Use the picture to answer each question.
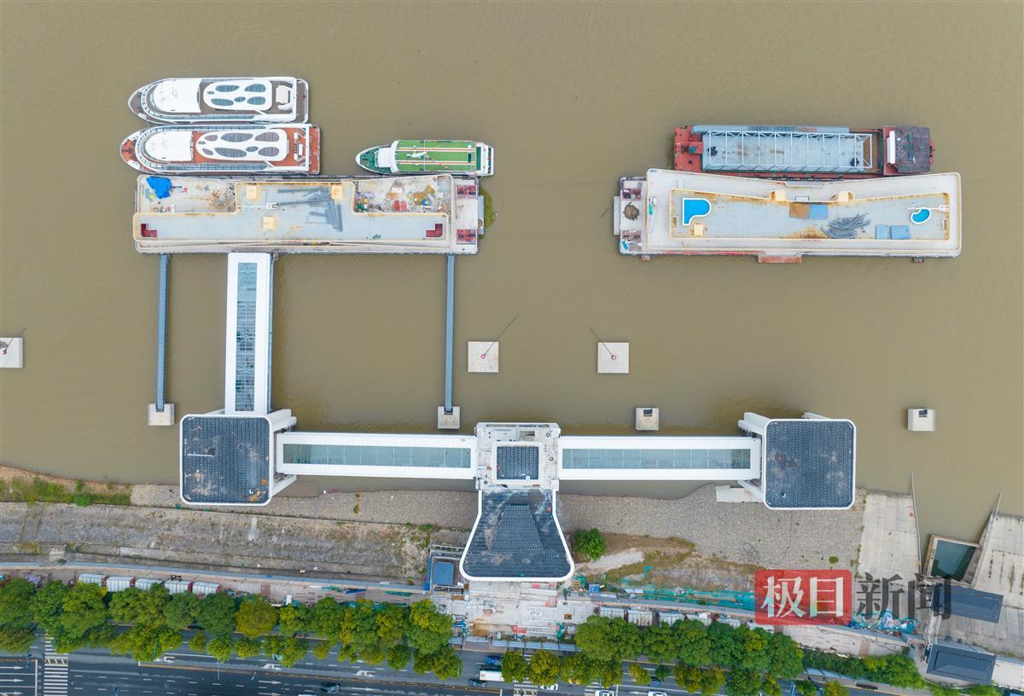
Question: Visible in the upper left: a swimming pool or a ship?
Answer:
ship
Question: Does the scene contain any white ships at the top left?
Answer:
Yes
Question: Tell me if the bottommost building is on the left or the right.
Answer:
right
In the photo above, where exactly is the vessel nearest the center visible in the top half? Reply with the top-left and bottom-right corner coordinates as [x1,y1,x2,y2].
[355,140,494,177]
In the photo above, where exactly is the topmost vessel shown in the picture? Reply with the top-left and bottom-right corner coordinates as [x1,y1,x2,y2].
[126,76,309,124]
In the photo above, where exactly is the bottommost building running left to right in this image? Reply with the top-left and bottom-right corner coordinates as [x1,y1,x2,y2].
[920,639,996,684]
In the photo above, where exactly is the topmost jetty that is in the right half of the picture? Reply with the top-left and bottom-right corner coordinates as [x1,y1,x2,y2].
[613,168,962,264]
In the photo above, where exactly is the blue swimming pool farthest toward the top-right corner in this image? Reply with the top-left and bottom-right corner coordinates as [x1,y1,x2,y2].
[911,209,932,224]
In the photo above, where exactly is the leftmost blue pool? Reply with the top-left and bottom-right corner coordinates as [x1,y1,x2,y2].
[683,198,711,226]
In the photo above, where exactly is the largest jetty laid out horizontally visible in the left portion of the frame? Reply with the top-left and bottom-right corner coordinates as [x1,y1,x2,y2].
[131,173,484,255]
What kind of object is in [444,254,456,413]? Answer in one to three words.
pier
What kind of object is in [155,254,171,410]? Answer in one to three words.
pier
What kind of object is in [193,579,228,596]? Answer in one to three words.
building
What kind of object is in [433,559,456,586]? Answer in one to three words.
shed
